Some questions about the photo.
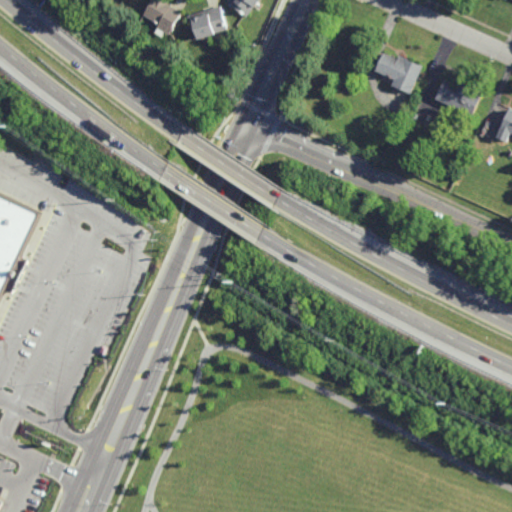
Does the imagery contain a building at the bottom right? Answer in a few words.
No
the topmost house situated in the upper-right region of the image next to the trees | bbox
[373,54,422,94]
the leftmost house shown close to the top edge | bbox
[142,0,188,38]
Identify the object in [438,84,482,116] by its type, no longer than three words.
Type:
house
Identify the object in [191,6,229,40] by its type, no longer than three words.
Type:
house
